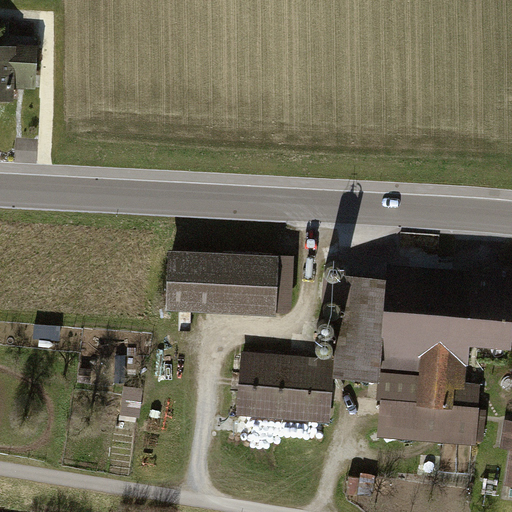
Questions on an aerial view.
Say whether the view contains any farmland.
Yes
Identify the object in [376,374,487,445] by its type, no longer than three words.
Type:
building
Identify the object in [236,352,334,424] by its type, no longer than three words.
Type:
shed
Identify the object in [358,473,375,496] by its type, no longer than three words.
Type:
shed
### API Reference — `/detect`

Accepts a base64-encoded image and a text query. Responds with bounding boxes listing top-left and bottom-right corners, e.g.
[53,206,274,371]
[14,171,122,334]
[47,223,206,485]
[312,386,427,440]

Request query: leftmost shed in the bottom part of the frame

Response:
[33,325,61,341]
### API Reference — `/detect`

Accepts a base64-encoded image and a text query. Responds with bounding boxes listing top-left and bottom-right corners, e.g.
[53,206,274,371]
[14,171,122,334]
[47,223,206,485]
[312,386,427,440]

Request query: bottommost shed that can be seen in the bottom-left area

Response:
[119,387,143,422]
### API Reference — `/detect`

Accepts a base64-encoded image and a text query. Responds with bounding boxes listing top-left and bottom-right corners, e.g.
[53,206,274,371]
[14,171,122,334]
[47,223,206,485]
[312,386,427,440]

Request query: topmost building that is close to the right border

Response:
[382,266,512,372]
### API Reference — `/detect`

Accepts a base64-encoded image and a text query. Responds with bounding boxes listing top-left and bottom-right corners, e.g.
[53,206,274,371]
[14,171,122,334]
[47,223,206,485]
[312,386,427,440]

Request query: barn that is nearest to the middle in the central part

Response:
[165,250,294,316]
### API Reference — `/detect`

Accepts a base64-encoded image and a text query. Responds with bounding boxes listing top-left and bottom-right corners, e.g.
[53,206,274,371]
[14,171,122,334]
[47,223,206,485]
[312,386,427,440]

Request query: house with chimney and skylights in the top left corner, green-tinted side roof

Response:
[0,44,38,103]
